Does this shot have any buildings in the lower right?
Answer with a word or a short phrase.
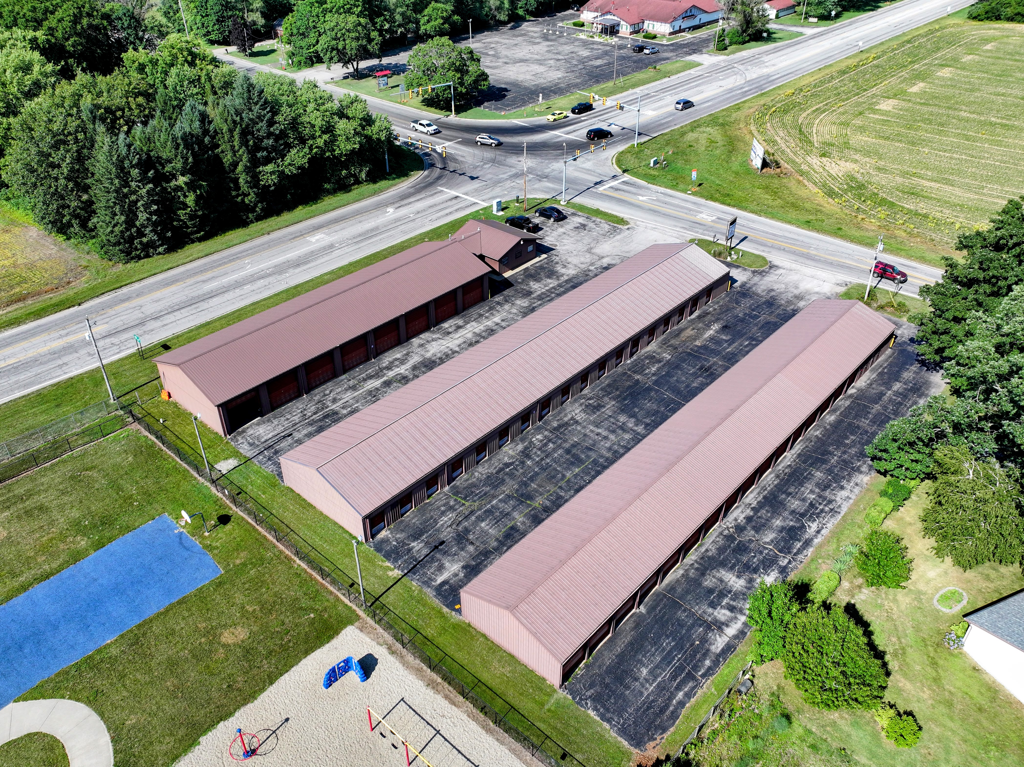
Yes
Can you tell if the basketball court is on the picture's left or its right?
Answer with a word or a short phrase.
left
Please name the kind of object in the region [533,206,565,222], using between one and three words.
car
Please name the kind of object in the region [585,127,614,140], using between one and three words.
vehicle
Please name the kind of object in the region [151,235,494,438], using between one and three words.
building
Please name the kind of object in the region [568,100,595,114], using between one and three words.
vehicle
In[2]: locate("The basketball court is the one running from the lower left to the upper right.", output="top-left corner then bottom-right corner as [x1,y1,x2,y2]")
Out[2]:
[0,513,222,709]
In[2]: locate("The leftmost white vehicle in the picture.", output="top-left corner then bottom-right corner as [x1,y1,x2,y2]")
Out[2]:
[411,120,439,135]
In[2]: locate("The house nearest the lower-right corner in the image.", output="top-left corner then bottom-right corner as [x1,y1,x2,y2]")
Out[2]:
[964,553,1024,679]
